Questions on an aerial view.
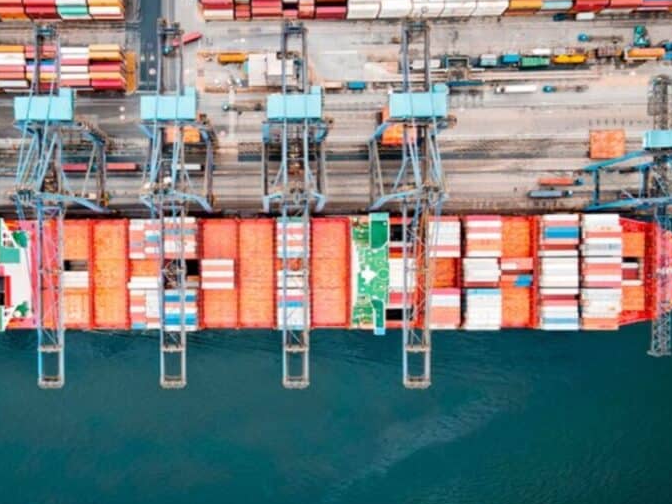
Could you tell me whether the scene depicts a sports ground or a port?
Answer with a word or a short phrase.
port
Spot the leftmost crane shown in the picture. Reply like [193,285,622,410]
[13,19,113,389]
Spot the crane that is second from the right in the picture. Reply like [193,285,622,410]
[360,16,454,389]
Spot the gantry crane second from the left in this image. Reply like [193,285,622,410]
[138,16,221,389]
